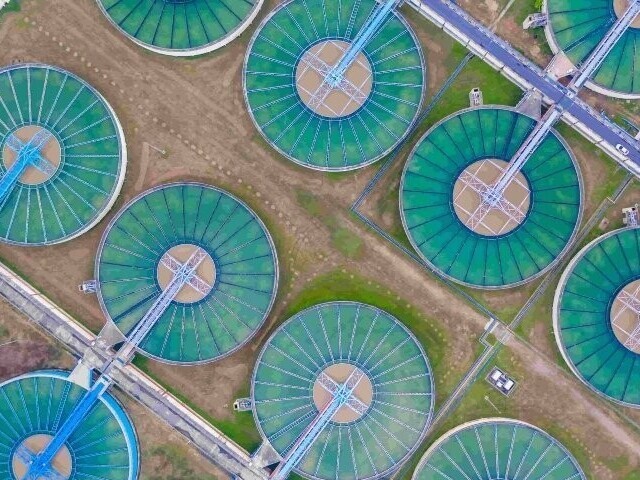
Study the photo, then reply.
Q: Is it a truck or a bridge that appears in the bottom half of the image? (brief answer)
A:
bridge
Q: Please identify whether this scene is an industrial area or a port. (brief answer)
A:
industrial area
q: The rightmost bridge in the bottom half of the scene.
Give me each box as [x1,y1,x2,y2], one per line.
[271,392,346,480]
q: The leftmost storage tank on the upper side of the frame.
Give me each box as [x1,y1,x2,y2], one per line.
[0,62,128,248]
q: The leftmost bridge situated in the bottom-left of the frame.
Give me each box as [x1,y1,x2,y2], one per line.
[36,371,114,468]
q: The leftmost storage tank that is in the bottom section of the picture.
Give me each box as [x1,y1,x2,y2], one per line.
[0,355,139,480]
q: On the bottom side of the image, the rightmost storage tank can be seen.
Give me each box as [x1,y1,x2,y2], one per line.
[552,225,640,409]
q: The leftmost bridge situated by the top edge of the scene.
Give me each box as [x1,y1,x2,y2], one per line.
[331,0,402,79]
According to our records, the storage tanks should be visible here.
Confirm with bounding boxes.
[0,62,128,248]
[242,0,428,171]
[552,225,640,409]
[93,180,279,366]
[250,300,436,480]
[398,89,586,290]
[542,0,640,99]
[0,355,139,480]
[410,418,586,480]
[94,0,264,56]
